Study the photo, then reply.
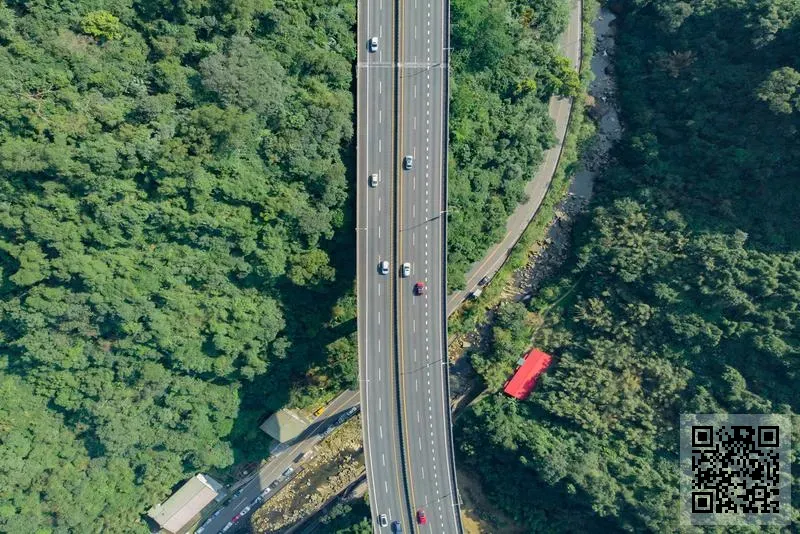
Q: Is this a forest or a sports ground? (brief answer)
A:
forest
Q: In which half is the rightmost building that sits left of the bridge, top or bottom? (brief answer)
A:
bottom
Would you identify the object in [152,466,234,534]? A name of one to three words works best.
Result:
building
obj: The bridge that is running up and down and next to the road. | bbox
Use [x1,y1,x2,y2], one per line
[357,0,463,534]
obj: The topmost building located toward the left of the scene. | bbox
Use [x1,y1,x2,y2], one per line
[260,408,309,442]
